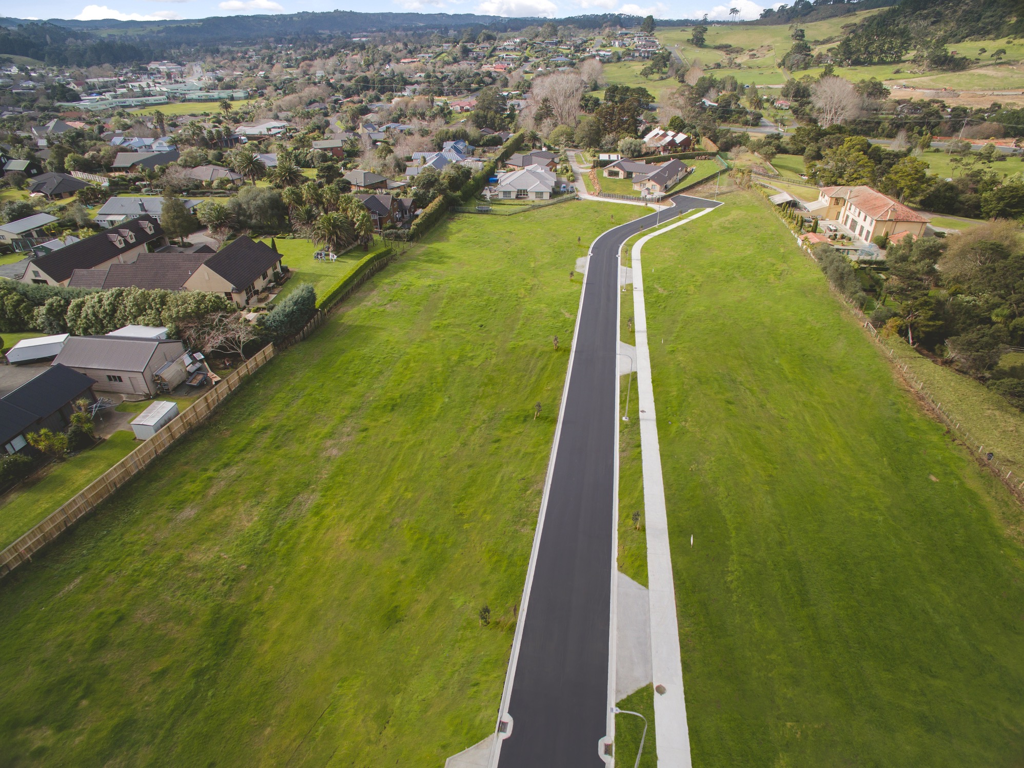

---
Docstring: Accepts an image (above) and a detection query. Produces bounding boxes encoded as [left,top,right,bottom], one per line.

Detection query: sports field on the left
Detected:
[130,100,256,115]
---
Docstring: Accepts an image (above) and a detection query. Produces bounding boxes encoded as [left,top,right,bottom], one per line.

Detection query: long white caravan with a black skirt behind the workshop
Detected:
[7,336,71,362]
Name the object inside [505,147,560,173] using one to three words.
house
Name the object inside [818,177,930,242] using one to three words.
house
